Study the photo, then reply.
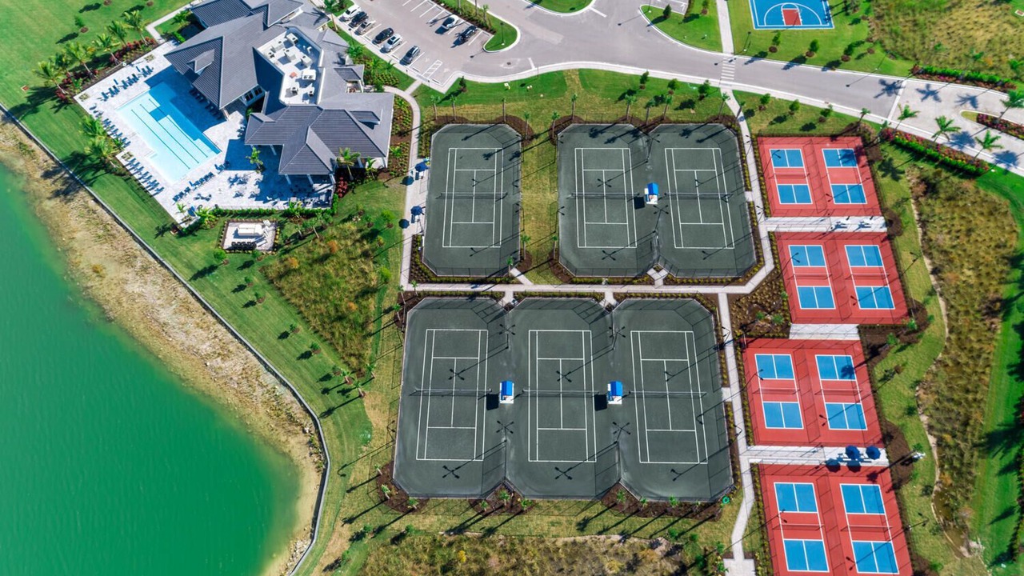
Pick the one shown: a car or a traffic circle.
car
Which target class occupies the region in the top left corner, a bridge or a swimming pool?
swimming pool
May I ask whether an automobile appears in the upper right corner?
No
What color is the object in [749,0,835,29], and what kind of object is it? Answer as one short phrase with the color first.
blue basketball court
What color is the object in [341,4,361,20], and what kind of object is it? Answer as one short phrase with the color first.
white car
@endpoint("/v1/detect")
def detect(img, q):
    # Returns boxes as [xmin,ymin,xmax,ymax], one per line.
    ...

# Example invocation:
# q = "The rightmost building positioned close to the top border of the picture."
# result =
[164,0,395,186]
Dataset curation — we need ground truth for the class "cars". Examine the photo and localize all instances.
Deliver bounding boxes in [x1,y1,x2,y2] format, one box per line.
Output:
[402,45,421,63]
[382,34,403,51]
[458,25,476,41]
[439,14,459,29]
[350,10,370,27]
[374,28,394,42]
[356,19,377,34]
[341,4,361,20]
